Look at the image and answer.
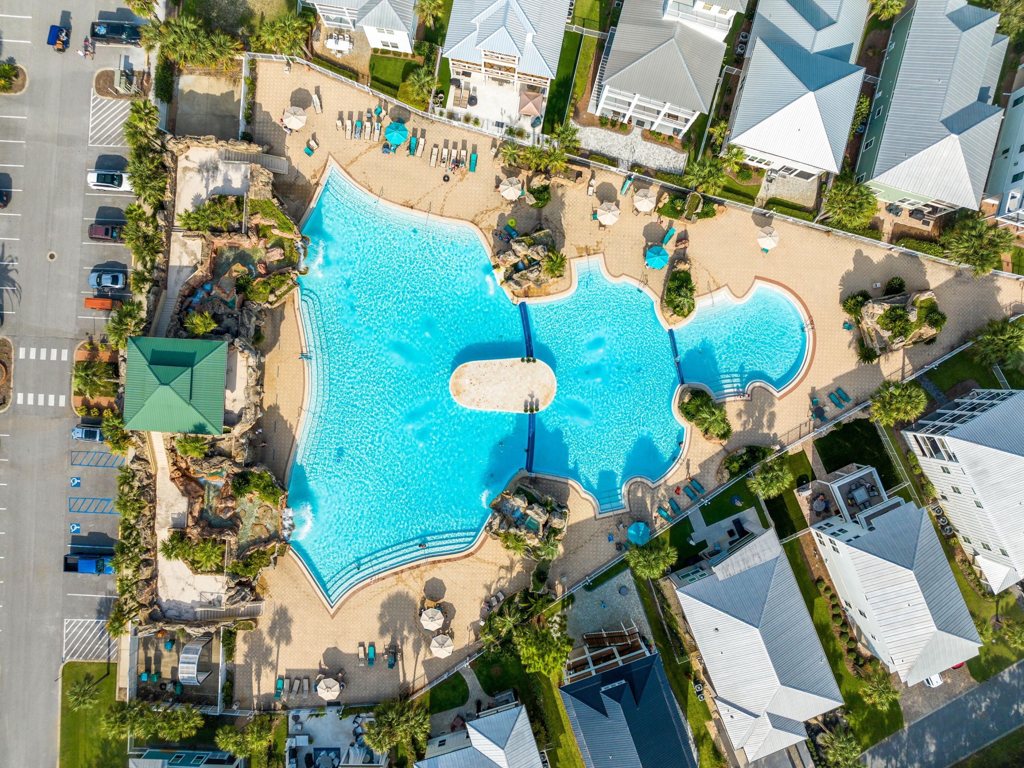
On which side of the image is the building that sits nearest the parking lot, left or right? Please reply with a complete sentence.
You can find the building that sits nearest the parking lot on the left side of the picture.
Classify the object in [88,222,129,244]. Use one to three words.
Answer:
car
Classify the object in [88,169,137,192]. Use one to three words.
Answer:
car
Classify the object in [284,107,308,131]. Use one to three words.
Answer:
umbrella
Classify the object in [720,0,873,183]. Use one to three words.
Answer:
house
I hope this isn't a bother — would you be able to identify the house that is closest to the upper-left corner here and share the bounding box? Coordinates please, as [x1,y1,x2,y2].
[306,0,421,53]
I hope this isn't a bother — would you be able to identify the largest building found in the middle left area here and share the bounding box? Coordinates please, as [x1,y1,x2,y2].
[123,336,239,436]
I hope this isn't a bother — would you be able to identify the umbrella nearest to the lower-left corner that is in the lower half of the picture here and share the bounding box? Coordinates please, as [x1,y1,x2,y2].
[318,676,341,700]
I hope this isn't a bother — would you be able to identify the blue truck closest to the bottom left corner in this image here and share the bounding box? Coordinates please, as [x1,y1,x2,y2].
[63,551,115,575]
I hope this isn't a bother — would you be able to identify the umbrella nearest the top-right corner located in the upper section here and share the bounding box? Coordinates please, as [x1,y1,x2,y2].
[755,227,778,250]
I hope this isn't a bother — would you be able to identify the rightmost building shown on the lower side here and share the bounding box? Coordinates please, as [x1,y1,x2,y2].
[901,383,1024,592]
